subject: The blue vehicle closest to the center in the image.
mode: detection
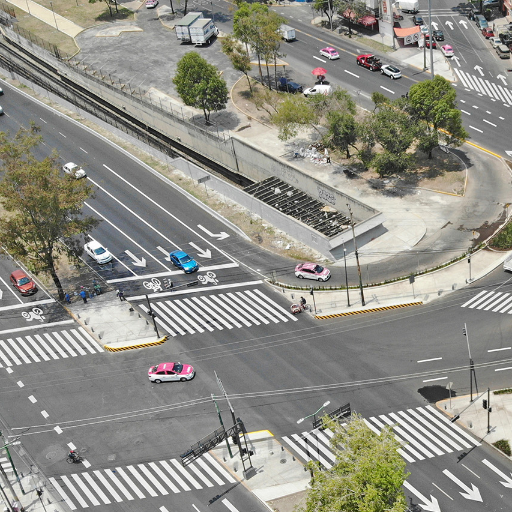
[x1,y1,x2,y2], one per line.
[168,250,200,275]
